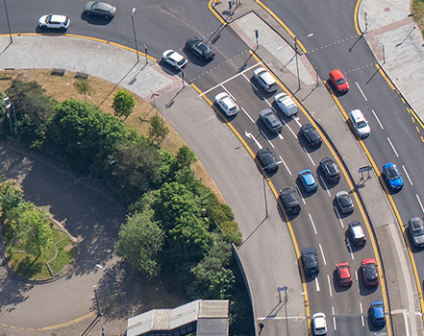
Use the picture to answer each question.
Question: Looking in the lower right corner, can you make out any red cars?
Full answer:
Yes, a red car appears in the lower right corner.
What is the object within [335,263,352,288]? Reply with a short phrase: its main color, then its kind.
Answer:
red car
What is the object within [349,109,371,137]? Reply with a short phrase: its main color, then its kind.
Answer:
white car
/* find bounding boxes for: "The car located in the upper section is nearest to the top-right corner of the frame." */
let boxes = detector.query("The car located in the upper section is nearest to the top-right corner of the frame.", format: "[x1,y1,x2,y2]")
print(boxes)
[328,68,349,94]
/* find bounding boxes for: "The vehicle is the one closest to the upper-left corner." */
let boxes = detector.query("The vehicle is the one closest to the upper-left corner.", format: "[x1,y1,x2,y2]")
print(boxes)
[37,13,70,31]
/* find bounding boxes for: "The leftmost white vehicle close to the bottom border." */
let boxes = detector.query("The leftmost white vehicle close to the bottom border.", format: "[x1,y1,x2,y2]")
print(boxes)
[310,312,327,336]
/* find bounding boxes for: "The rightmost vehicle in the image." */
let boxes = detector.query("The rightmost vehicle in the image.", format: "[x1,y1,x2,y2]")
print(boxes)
[408,217,424,247]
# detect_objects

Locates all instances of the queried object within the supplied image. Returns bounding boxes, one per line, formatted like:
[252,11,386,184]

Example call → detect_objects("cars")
[256,147,279,176]
[160,51,187,70]
[408,217,424,247]
[300,249,319,276]
[349,109,371,137]
[310,312,327,336]
[82,1,118,20]
[348,223,365,247]
[361,259,378,287]
[336,192,352,215]
[251,67,279,93]
[274,91,300,119]
[335,263,352,288]
[299,122,323,149]
[213,91,240,119]
[184,39,216,62]
[297,170,317,195]
[382,163,403,190]
[259,109,284,136]
[328,68,349,94]
[37,13,70,31]
[278,186,300,216]
[319,157,341,186]
[368,304,384,328]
